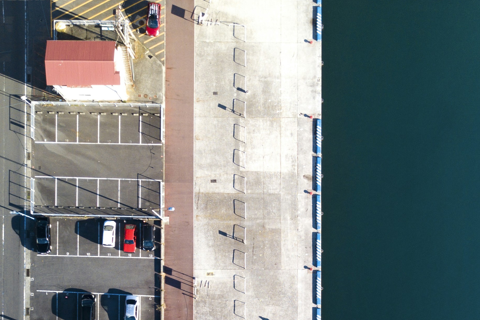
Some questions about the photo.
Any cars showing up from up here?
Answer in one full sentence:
Yes, there's a car down there.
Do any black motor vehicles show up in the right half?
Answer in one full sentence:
No, I see no black motor vehicle in the right half.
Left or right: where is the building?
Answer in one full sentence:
You can find the building on the left side of the picture.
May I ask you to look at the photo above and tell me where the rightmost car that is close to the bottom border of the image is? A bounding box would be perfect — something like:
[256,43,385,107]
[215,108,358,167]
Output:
[122,295,139,320]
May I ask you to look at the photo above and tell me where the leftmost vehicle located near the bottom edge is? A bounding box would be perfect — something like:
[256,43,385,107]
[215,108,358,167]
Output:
[78,293,96,320]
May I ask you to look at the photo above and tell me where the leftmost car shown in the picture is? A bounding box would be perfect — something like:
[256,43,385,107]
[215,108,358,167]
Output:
[33,216,50,253]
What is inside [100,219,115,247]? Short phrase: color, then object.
white car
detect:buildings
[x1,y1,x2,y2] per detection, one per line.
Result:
[45,41,133,101]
